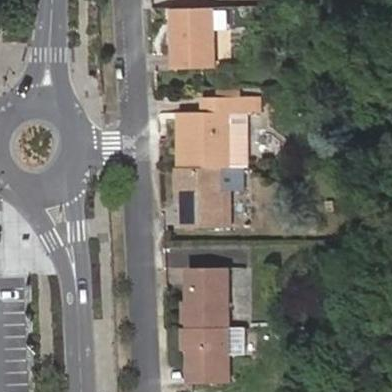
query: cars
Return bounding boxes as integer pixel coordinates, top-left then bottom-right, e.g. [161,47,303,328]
[78,281,88,302]
[166,370,183,382]
[16,76,33,98]
[0,290,20,300]
[114,58,125,80]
